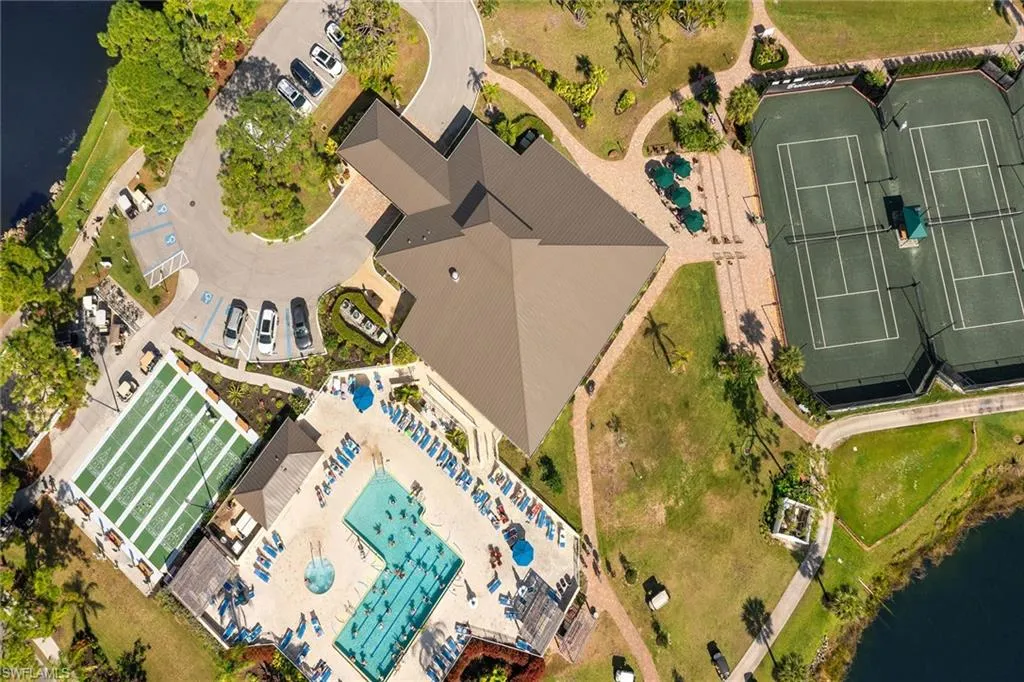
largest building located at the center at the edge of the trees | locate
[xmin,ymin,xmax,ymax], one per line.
[337,98,667,457]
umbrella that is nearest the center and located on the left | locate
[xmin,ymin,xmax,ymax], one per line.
[353,385,374,410]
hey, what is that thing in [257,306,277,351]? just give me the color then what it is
white car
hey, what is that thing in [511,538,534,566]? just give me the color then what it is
blue umbrella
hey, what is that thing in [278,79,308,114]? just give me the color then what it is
white car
